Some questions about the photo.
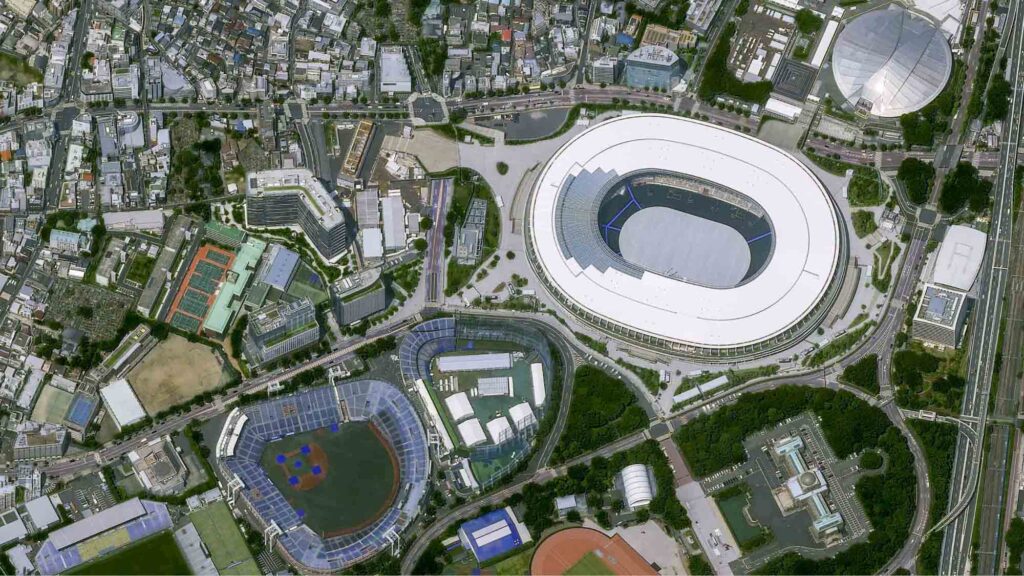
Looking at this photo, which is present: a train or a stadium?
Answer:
stadium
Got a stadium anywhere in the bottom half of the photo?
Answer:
Yes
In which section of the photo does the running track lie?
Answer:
bottom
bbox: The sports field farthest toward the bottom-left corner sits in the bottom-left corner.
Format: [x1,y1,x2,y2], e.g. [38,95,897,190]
[38,498,220,576]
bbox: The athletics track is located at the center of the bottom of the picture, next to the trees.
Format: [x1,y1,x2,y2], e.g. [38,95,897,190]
[529,525,662,576]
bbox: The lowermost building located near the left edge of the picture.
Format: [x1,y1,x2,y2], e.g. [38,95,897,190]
[5,545,36,576]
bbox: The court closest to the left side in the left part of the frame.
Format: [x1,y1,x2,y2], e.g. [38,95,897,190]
[62,393,99,432]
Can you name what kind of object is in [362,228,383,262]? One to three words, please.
shed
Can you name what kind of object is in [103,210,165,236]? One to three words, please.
building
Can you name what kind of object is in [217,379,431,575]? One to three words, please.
stadium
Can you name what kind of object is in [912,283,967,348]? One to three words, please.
building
